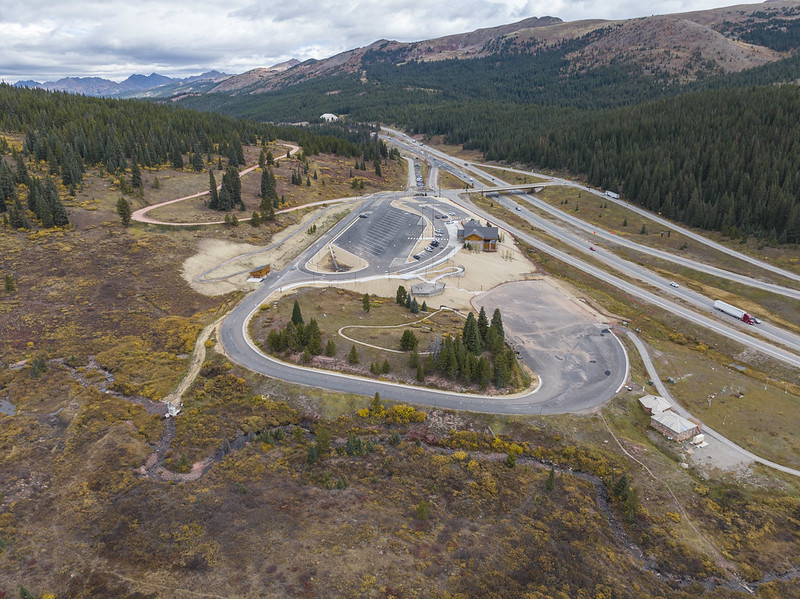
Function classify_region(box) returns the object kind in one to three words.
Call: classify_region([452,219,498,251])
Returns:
building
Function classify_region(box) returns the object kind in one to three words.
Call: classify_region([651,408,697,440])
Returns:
building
